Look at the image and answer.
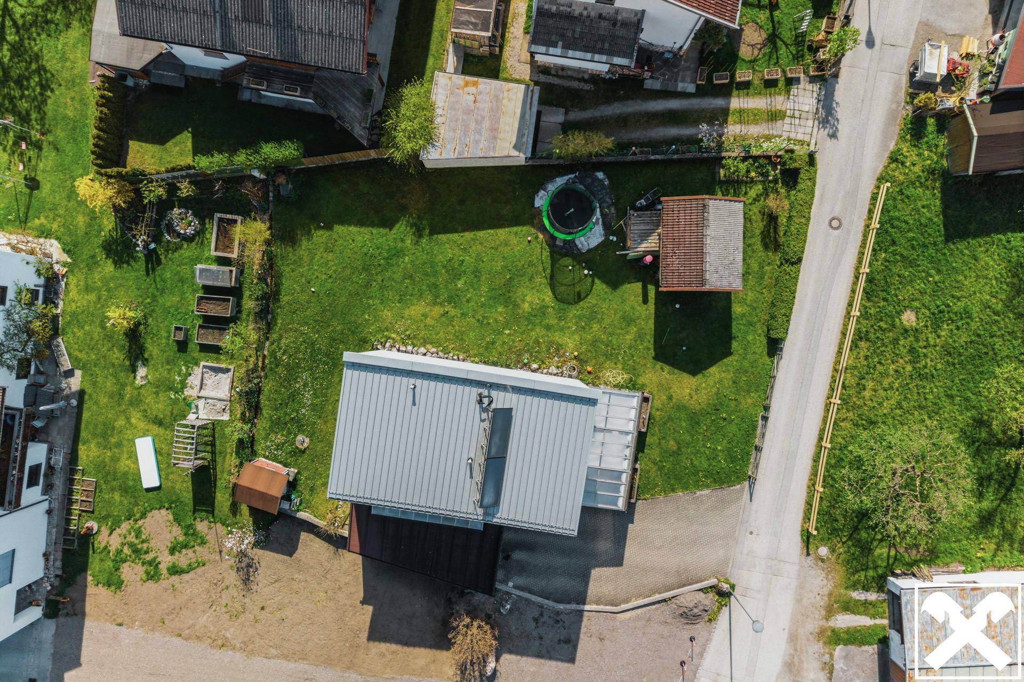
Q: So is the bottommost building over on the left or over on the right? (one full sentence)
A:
You can find the bottommost building on the right side of the picture.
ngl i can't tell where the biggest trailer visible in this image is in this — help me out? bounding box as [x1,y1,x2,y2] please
[903,38,948,79]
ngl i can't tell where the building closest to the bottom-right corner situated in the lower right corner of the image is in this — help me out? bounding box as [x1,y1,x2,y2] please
[889,569,1024,682]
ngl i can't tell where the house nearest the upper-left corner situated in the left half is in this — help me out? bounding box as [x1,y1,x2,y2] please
[90,0,386,145]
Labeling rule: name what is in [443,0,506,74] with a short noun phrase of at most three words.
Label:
shed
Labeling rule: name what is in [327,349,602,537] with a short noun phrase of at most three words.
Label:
house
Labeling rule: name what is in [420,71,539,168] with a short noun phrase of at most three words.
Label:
building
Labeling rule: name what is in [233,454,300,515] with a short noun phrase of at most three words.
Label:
shed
